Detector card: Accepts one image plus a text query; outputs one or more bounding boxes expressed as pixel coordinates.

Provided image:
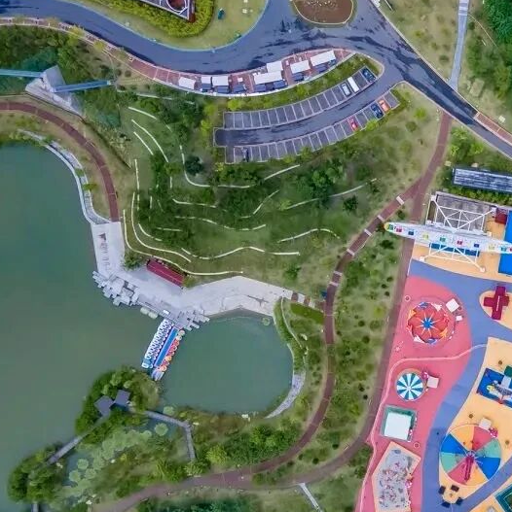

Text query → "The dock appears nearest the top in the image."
[155,326,181,368]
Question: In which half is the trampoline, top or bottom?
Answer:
bottom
